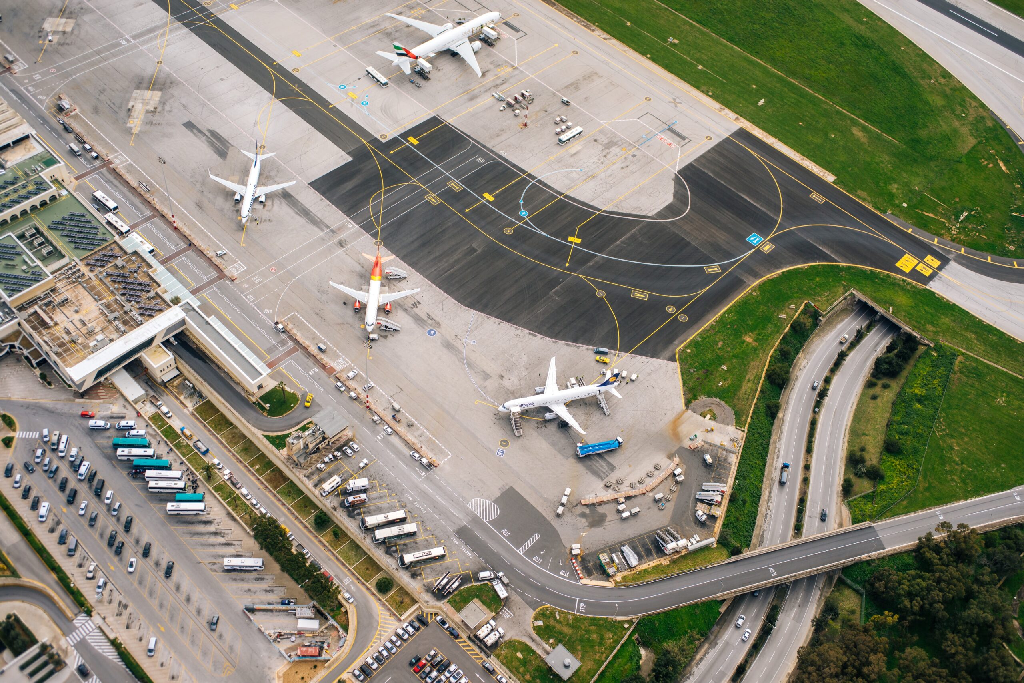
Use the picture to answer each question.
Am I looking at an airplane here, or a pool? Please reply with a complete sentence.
Of the two, only an airplane appears.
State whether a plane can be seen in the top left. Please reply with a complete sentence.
Yes, the scene does show a plane in the top left.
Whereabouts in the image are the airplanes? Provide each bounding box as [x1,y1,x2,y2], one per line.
[329,243,421,333]
[208,139,297,222]
[377,11,502,78]
[497,355,621,433]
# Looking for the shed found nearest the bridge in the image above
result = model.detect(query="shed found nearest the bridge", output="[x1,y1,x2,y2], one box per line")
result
[544,644,581,683]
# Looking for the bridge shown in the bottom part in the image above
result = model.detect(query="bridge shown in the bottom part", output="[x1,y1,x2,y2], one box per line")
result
[639,516,1024,618]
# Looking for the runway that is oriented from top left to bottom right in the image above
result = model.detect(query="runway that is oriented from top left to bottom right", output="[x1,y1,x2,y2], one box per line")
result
[857,0,1024,141]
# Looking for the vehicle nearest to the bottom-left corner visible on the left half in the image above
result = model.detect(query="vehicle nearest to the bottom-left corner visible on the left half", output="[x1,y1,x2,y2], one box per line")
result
[77,662,90,678]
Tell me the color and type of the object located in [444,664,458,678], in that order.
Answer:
white car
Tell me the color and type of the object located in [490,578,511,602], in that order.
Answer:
white truck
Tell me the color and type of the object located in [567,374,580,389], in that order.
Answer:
white vehicle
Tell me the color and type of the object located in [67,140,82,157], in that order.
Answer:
white vehicle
